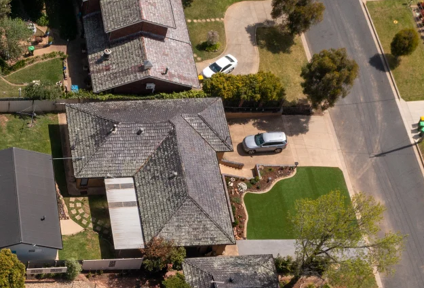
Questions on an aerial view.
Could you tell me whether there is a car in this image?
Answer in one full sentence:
Yes, there is a car in the image.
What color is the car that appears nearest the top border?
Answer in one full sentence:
The car that appears nearest the top border is white.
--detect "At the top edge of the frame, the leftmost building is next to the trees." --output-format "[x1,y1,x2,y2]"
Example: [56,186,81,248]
[75,0,201,101]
